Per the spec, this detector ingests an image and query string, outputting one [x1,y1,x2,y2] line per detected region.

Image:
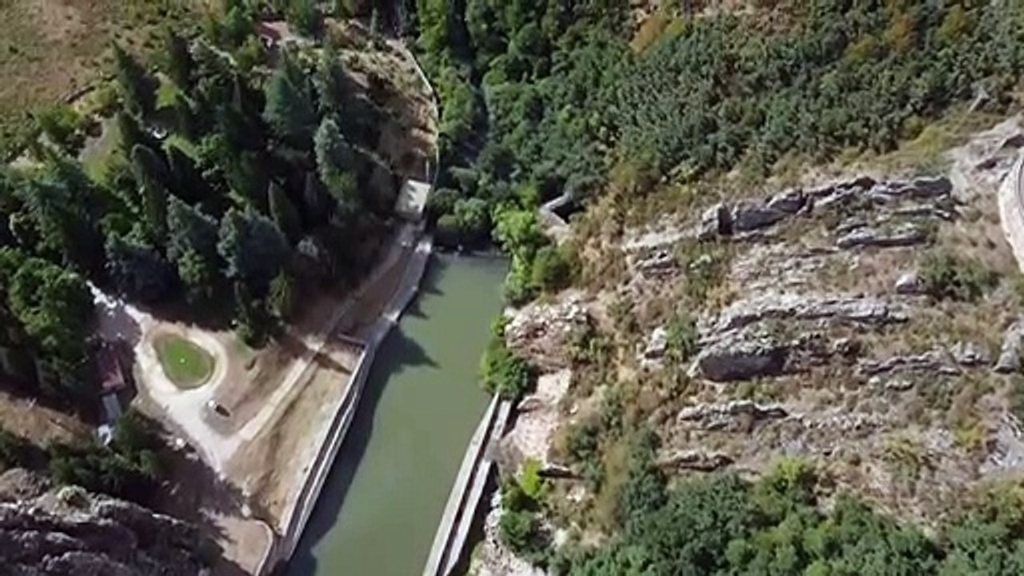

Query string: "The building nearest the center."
[542,194,572,226]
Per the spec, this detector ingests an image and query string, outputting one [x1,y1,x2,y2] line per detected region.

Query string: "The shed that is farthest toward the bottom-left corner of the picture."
[103,395,130,428]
